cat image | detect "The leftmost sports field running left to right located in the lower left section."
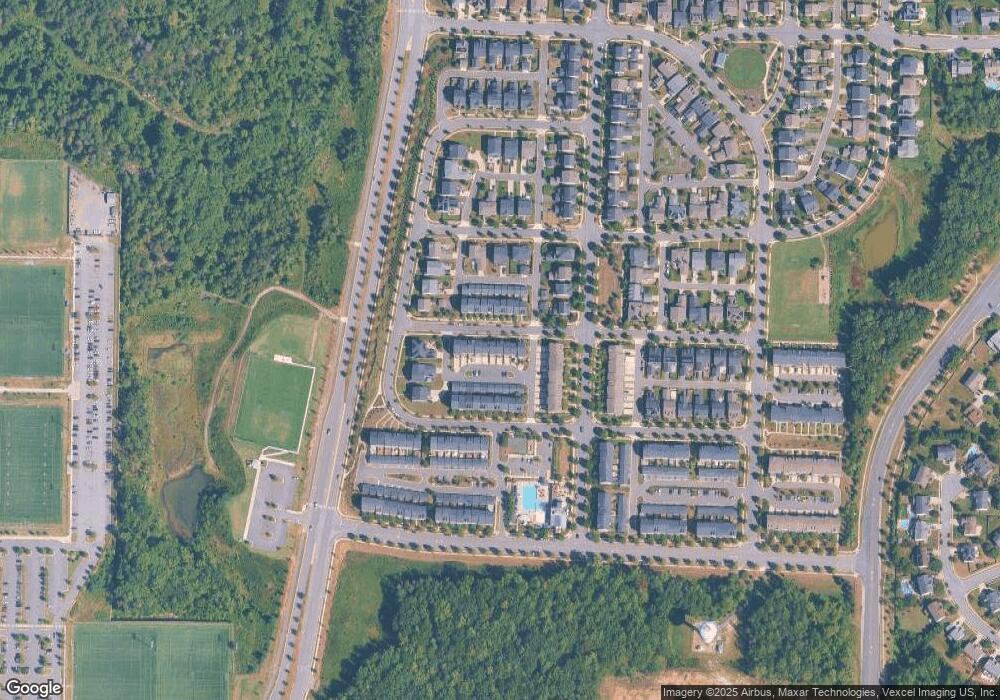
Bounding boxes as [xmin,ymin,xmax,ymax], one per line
[74,623,230,700]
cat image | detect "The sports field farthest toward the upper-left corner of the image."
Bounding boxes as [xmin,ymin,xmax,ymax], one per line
[0,160,68,242]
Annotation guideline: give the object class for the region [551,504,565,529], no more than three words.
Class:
building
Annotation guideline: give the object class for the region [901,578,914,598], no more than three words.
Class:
swimming pool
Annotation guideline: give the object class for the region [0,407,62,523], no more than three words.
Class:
sports field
